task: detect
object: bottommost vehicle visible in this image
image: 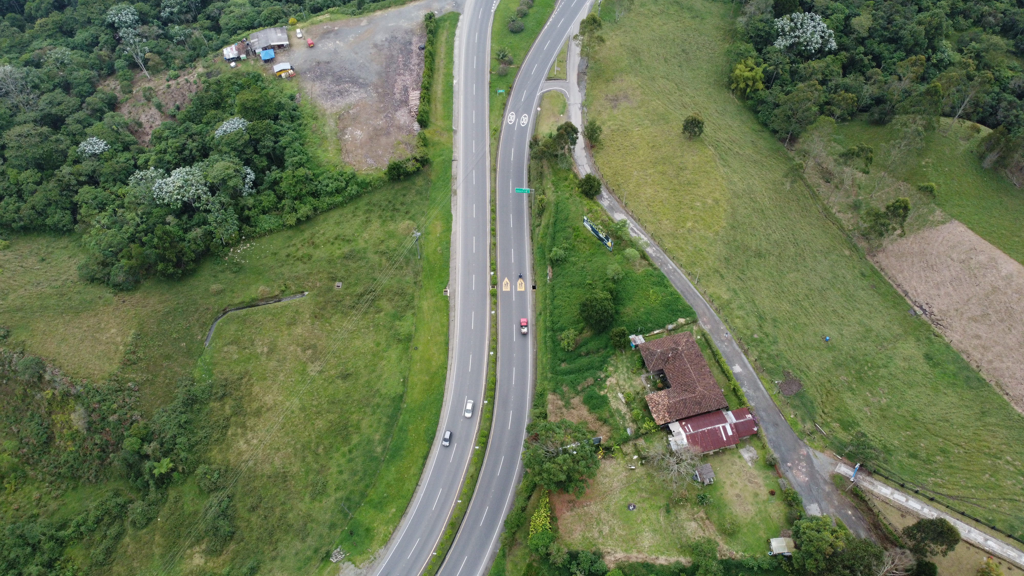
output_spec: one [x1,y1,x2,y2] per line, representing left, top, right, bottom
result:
[441,430,453,448]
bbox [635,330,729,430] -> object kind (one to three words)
house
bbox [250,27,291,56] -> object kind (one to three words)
shed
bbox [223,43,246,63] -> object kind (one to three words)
shed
